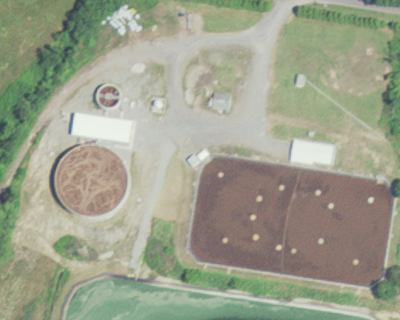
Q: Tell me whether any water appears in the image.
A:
Yes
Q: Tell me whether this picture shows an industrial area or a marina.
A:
industrial area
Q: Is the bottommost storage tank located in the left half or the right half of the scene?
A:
left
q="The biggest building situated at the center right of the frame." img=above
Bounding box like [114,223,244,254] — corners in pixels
[291,138,336,166]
